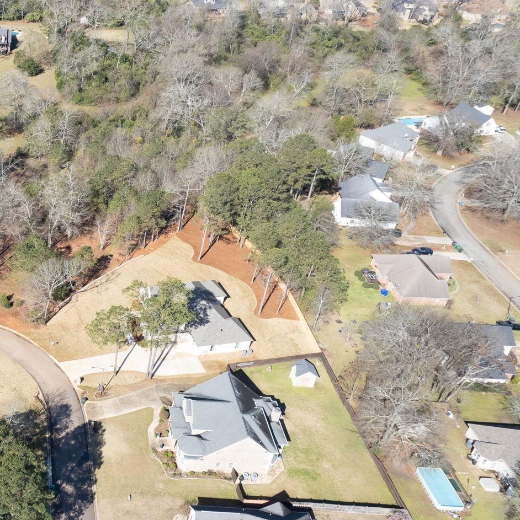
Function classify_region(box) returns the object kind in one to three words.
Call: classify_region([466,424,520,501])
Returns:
house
